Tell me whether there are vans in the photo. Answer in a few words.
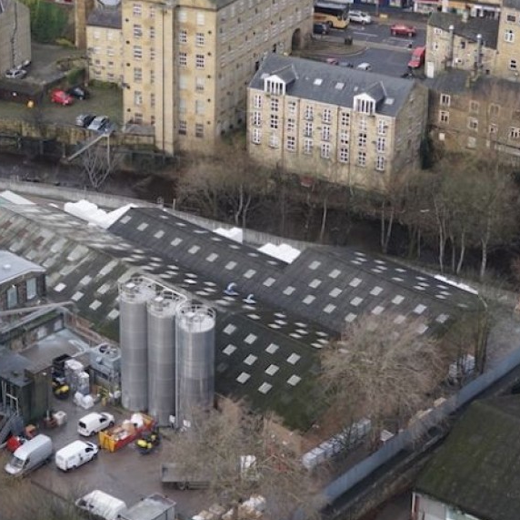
Yes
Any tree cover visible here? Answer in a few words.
Yes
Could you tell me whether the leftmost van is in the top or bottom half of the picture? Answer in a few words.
bottom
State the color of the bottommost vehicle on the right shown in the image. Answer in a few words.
red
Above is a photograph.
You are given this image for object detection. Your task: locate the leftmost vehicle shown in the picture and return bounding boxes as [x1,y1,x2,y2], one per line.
[3,426,57,478]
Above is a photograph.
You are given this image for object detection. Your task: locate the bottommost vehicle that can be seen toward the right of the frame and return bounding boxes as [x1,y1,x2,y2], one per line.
[407,43,428,67]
